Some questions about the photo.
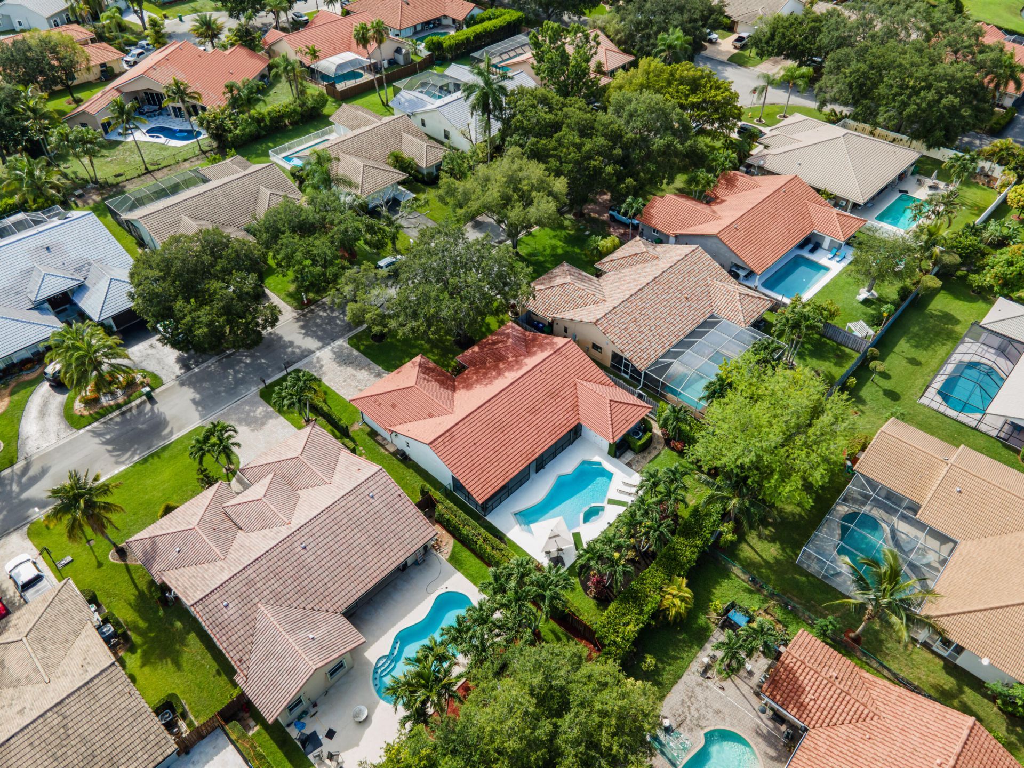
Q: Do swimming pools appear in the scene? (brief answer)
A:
Yes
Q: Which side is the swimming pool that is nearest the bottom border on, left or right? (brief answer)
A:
right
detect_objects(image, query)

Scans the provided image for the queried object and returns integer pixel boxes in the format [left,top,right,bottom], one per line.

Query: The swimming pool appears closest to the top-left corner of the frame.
[144,125,203,140]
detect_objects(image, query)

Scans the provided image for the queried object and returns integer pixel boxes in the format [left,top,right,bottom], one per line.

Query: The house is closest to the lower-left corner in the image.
[0,576,178,768]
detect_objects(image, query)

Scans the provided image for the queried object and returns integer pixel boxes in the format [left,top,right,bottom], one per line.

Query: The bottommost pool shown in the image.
[674,723,764,768]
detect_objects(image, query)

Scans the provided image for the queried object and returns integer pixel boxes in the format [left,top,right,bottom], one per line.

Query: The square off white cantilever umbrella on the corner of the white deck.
[530,517,573,572]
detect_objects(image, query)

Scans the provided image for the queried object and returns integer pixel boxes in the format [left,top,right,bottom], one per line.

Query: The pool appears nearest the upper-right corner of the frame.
[872,192,928,230]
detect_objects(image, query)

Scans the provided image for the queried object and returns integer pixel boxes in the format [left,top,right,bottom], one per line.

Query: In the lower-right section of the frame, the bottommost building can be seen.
[758,628,1024,768]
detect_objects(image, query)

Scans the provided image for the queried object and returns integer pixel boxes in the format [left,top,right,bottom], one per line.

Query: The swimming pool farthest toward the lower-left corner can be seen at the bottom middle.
[369,587,472,711]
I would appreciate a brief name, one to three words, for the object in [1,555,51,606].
truck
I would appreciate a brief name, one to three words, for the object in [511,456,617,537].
swimming pool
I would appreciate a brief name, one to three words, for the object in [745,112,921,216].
house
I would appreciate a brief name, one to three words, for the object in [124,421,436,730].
house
